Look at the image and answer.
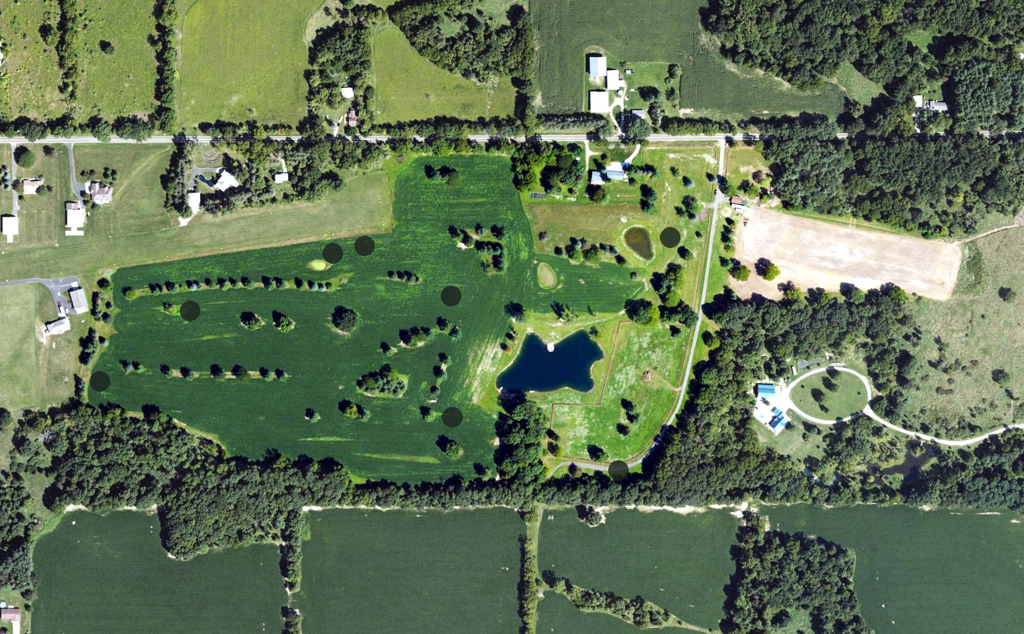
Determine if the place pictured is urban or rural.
rural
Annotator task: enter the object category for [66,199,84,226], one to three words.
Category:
hangar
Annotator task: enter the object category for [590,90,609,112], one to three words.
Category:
barn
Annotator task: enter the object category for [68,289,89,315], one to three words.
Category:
barn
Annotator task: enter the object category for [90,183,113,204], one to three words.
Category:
house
